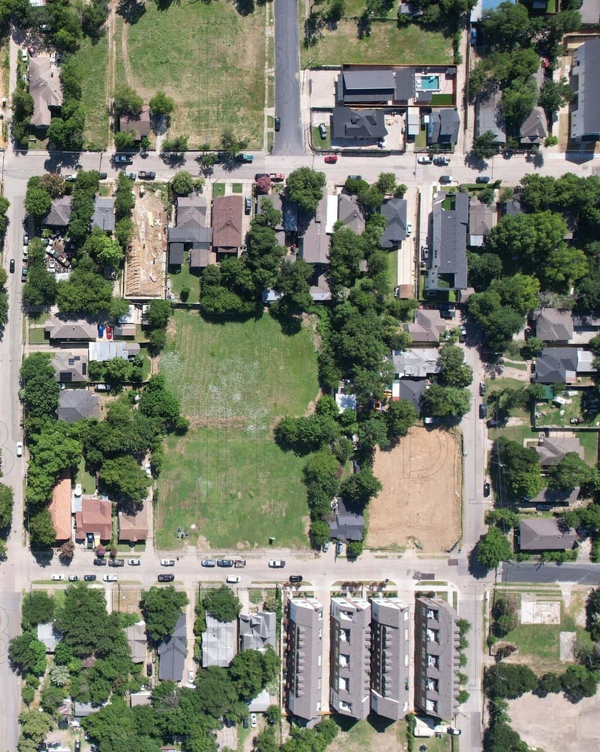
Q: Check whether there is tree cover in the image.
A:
Yes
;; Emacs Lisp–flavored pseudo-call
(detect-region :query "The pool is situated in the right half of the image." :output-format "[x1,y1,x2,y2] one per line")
[418,72,442,91]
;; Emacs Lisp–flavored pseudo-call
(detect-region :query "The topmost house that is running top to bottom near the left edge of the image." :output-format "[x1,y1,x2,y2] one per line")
[29,56,61,127]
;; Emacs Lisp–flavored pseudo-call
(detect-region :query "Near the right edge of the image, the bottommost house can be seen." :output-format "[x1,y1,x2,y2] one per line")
[514,518,576,550]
